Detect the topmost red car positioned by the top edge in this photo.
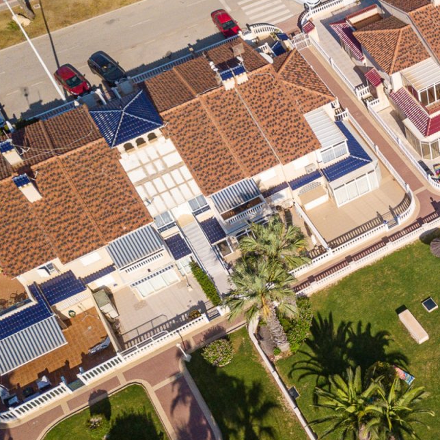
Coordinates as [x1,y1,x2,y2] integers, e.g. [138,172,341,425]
[205,4,247,42]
